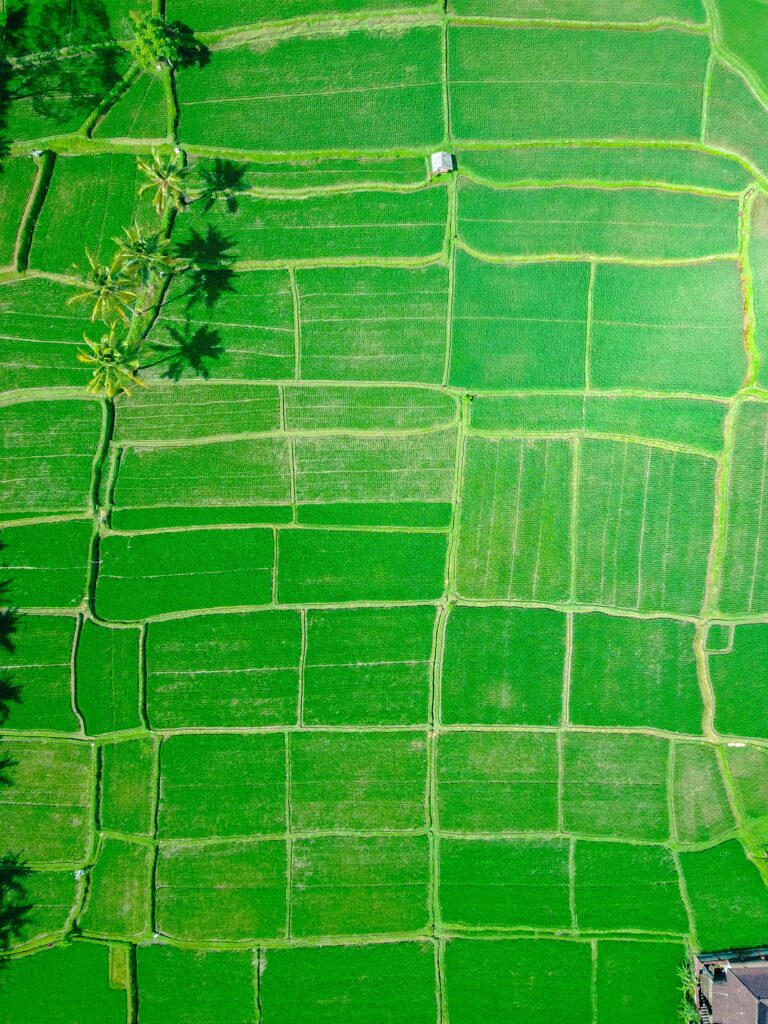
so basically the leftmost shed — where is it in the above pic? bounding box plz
[432,152,452,177]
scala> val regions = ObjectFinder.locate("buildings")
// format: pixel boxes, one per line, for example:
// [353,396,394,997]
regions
[432,152,452,177]
[701,960,768,1024]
